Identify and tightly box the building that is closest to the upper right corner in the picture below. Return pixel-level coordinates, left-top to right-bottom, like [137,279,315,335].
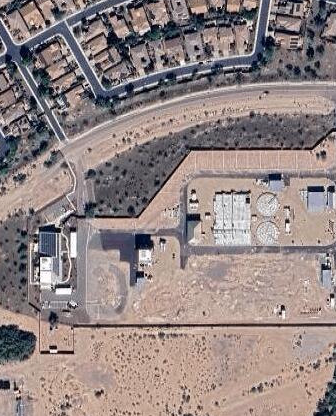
[322,3,336,40]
